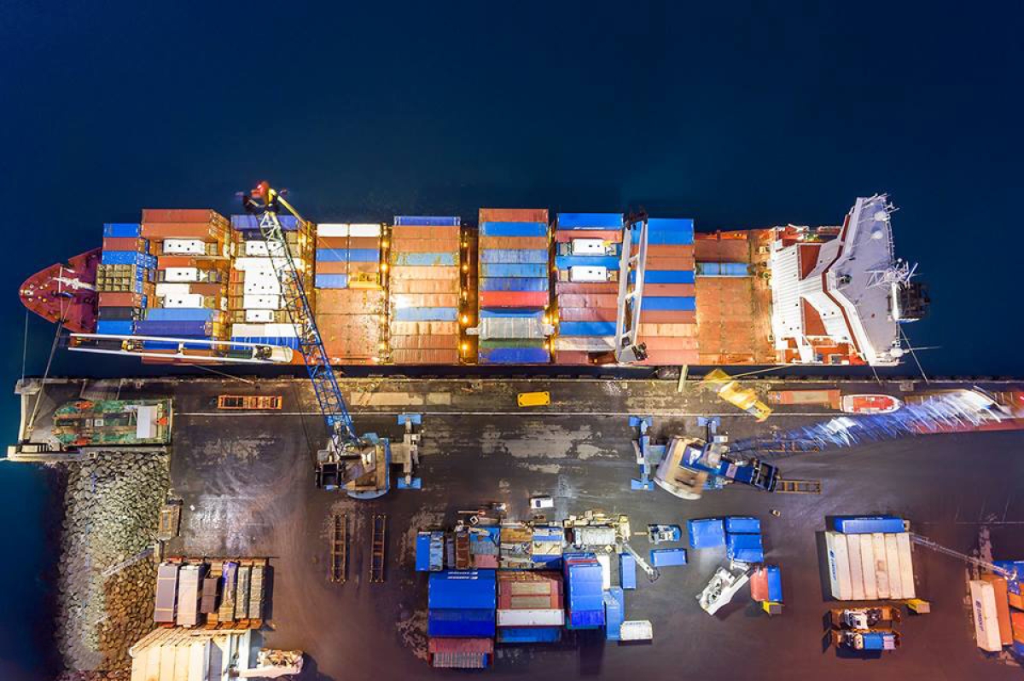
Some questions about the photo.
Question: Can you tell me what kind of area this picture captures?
port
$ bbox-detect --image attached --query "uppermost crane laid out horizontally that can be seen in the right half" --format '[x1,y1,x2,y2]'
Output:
[628,383,1002,493]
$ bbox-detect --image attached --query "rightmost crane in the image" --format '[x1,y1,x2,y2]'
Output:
[901,530,1024,592]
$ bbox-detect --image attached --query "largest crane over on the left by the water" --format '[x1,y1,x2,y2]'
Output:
[231,179,422,502]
